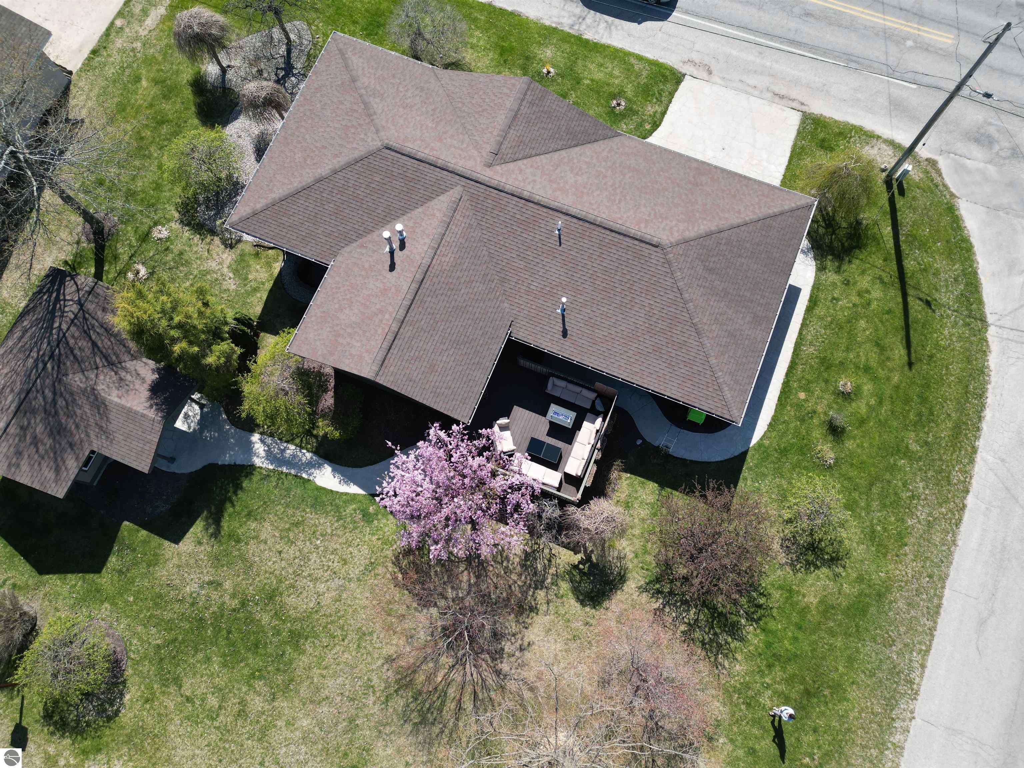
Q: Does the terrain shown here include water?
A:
No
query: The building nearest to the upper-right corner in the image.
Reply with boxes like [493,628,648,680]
[226,32,816,425]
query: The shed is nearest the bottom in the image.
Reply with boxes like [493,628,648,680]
[0,267,207,499]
